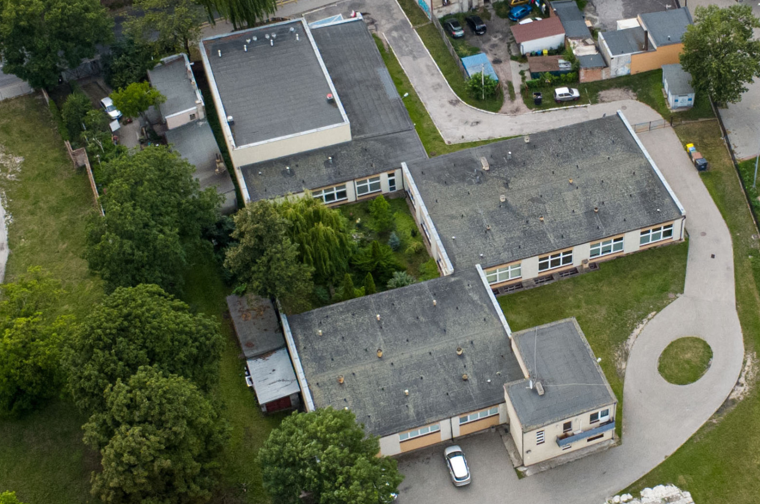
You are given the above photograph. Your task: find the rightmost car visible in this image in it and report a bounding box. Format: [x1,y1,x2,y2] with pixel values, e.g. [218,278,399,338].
[552,87,581,104]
